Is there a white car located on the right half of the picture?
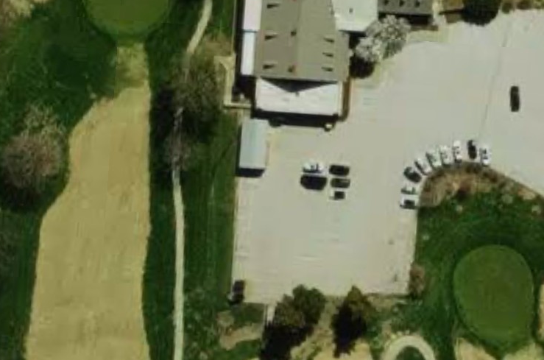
Yes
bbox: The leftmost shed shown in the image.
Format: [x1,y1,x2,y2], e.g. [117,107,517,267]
[239,121,269,169]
